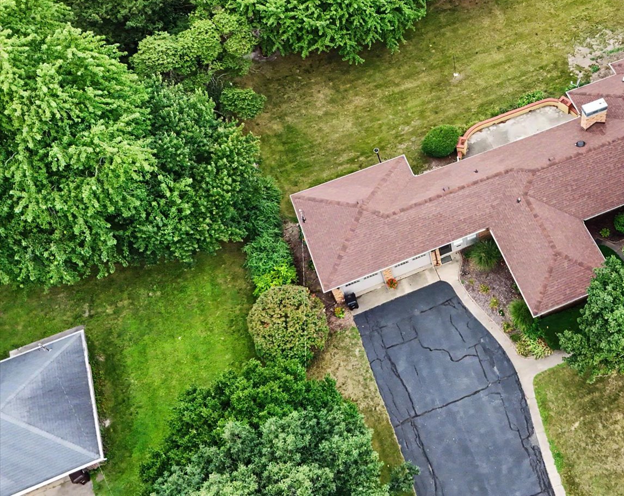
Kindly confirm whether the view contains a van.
No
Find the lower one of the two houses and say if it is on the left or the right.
left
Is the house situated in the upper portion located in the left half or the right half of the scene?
right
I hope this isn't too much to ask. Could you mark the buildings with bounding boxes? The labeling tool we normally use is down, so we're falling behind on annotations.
[0,326,112,496]
[290,58,624,321]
